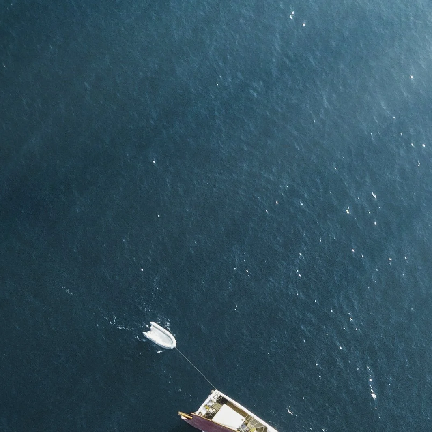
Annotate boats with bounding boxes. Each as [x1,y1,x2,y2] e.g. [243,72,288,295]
[144,322,176,349]
[175,388,281,432]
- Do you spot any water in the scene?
Yes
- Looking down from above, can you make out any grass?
No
